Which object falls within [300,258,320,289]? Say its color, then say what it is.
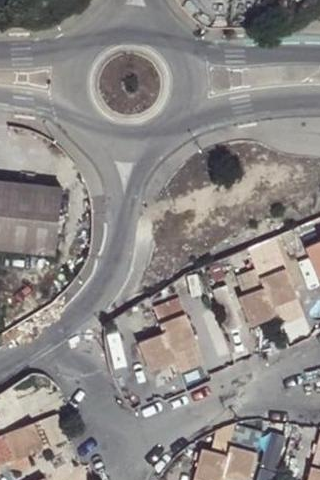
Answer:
white camper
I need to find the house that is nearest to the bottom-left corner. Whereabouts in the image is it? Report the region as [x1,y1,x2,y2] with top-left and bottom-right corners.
[0,412,71,471]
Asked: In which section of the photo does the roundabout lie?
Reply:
top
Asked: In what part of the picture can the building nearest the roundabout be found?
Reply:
left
